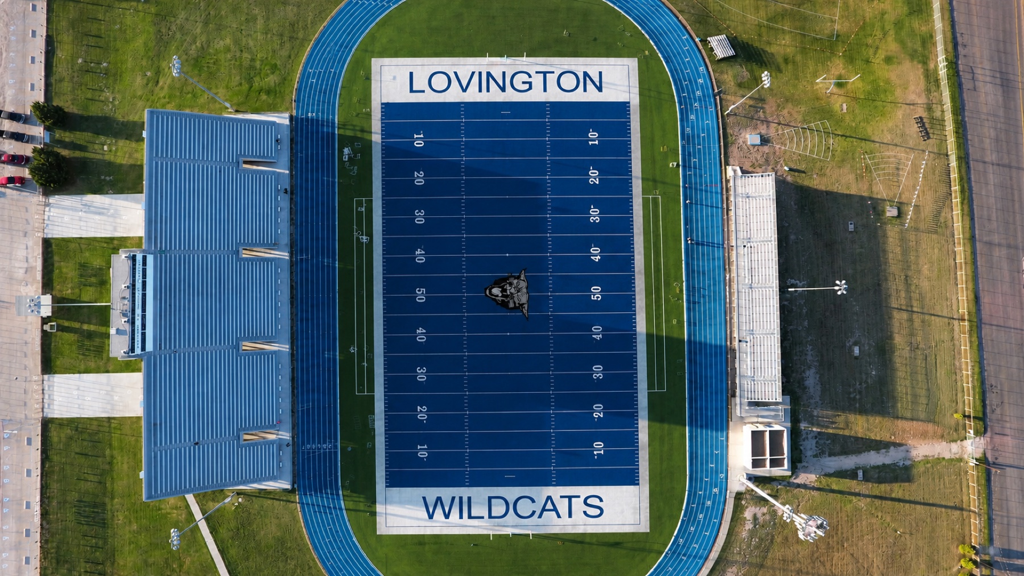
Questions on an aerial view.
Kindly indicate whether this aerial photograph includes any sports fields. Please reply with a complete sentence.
Yes, there is a sports field in the image.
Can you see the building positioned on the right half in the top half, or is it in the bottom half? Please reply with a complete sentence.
The building positioned on the right half is in the bottom half of the image.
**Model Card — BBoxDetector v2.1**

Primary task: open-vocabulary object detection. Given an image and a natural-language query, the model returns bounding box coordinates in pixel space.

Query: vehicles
[3,153,27,164]
[0,174,24,185]
[0,130,27,142]
[0,111,24,123]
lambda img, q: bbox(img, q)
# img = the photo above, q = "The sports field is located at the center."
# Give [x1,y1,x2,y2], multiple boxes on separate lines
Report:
[381,102,637,488]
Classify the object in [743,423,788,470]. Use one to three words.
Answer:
building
